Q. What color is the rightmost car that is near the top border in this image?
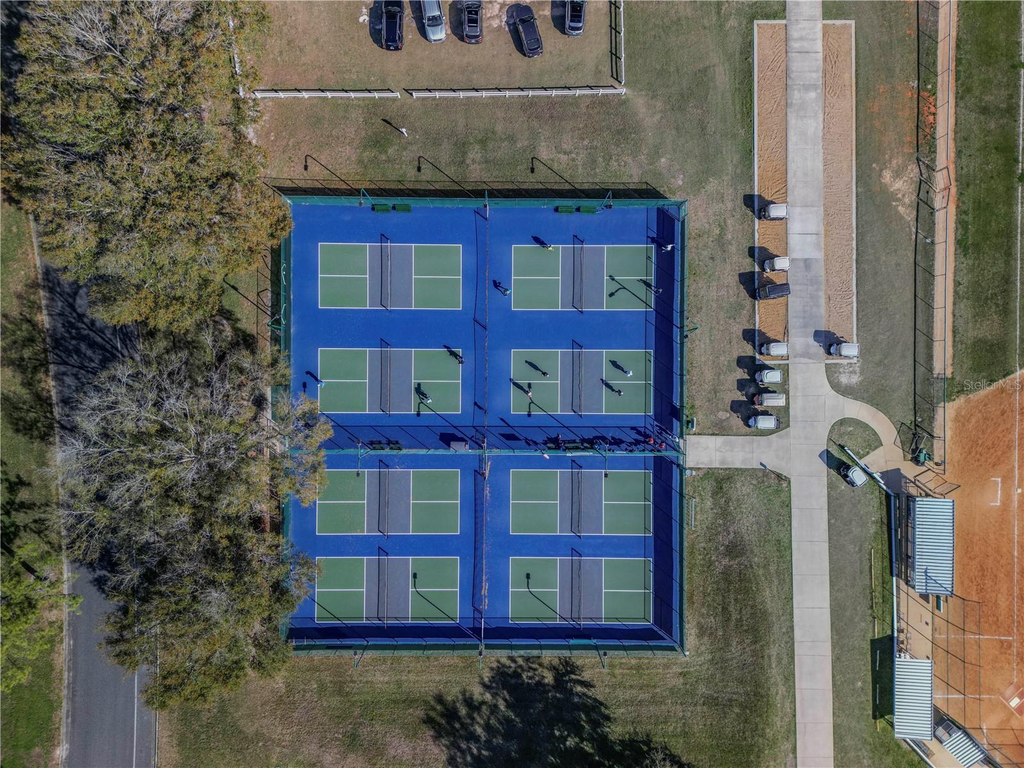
black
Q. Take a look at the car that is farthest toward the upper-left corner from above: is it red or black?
black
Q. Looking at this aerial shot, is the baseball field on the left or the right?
right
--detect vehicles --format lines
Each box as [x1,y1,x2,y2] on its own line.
[514,4,544,59]
[418,0,445,45]
[380,0,405,52]
[757,343,788,356]
[461,0,486,45]
[752,393,786,406]
[757,283,792,301]
[760,256,792,273]
[826,343,859,357]
[836,459,869,487]
[757,205,788,222]
[745,415,778,429]
[563,0,588,38]
[751,370,782,383]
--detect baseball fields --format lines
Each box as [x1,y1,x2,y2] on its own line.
[933,0,1024,768]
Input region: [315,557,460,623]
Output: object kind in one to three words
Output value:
sports court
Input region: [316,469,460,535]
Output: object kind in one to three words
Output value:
sports court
